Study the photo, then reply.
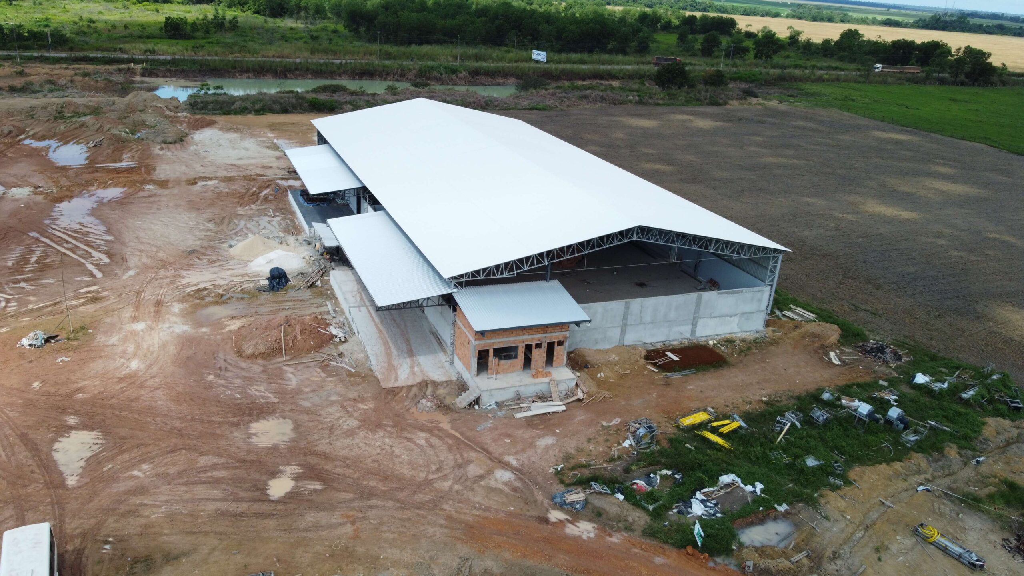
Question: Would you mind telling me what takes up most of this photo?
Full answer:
Most of the picture is covered by paved ground.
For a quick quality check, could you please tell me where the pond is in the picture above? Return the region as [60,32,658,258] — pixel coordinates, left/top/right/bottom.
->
[154,80,524,100]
